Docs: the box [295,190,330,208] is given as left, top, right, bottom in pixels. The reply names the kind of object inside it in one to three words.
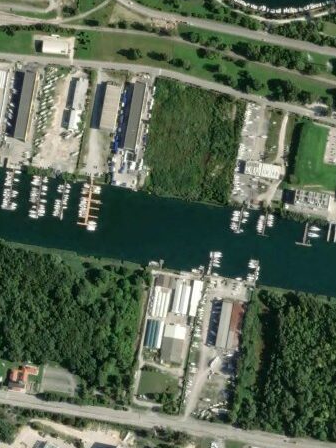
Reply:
building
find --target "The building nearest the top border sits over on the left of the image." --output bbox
[41,41,70,54]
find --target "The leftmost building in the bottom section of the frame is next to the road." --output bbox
[9,367,39,390]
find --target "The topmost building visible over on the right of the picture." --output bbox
[245,161,284,180]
